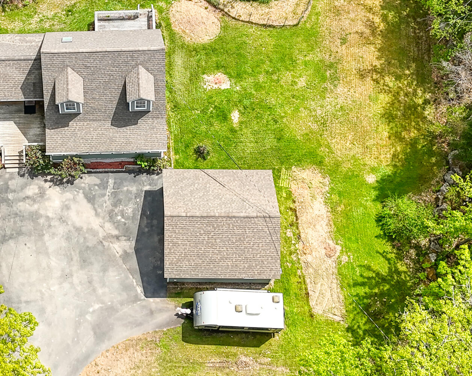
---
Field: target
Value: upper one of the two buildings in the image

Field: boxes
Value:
[0,29,168,163]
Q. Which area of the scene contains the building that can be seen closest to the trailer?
center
